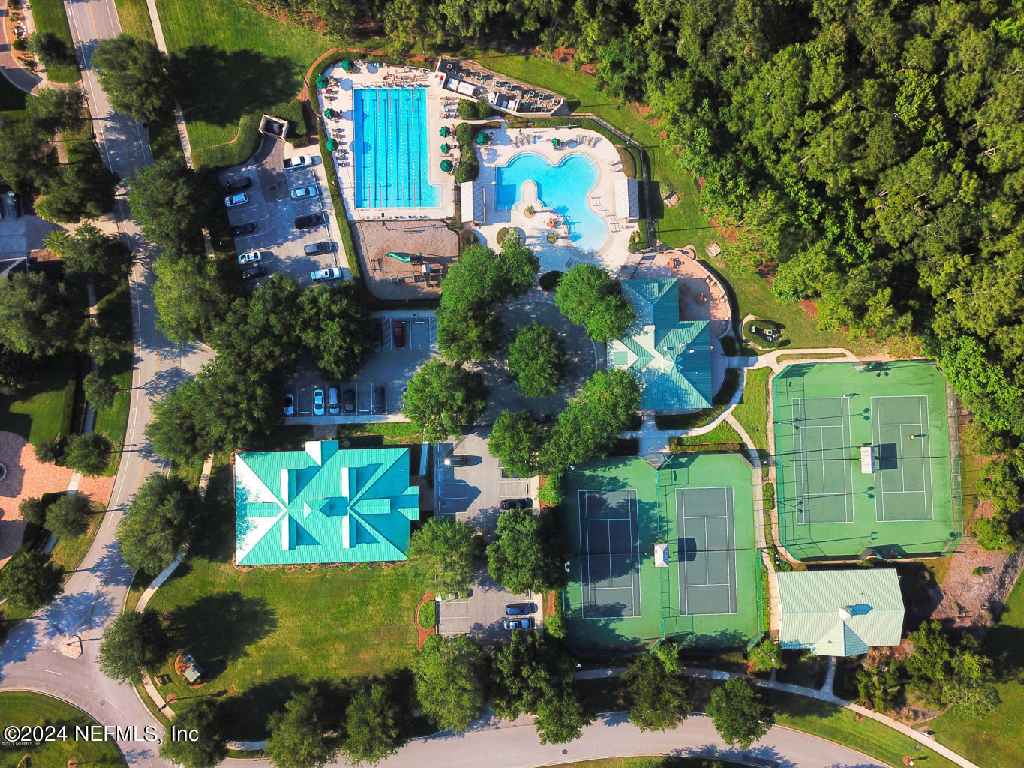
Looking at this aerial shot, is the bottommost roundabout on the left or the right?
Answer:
left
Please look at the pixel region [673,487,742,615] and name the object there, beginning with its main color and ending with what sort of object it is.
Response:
gray tennis court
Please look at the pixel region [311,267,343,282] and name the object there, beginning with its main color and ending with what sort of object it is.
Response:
blue vehicle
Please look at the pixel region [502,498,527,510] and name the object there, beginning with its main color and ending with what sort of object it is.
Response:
black vehicle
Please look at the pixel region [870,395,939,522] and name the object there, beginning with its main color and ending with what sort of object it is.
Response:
green tennis court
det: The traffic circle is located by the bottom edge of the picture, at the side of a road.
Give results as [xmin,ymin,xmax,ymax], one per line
[0,640,179,768]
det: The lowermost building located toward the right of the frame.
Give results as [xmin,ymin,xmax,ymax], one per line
[773,569,907,659]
